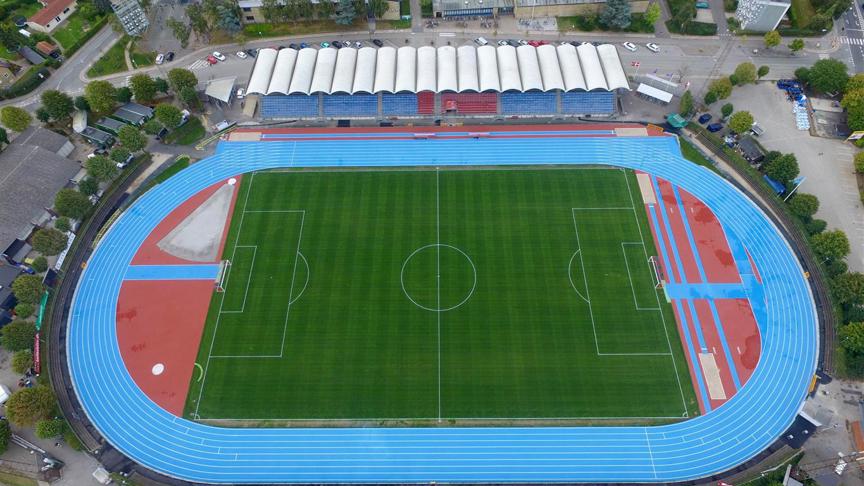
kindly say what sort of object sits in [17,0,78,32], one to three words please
house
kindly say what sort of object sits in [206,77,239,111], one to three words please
building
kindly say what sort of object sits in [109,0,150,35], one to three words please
building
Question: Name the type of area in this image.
sports ground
